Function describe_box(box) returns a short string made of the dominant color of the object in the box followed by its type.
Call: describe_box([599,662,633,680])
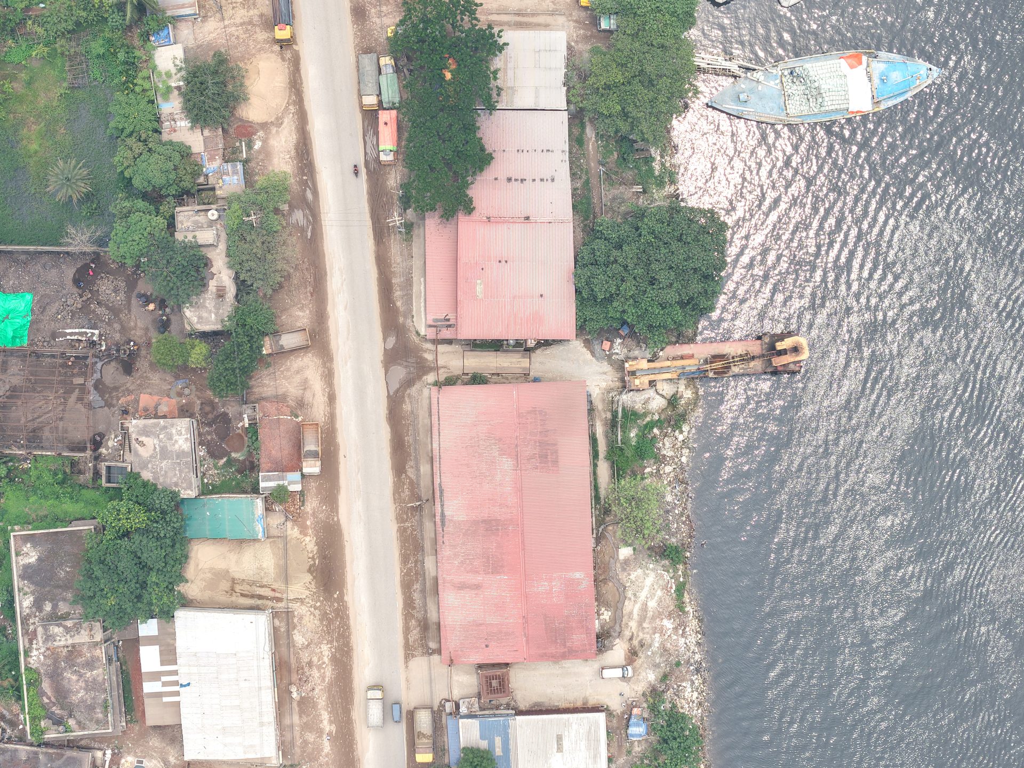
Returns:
white vehicle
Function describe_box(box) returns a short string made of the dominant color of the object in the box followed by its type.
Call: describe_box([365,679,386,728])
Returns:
white truck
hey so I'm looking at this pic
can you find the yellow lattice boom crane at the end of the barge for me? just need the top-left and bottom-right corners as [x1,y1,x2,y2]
[688,336,808,372]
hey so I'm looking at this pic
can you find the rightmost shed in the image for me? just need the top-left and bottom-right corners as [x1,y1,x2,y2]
[625,708,656,741]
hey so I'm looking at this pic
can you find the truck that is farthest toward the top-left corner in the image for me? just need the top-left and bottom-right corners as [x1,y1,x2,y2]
[273,0,297,54]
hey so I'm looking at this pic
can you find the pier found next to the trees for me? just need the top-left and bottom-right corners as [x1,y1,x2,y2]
[691,52,779,76]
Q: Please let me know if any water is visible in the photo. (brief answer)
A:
Yes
